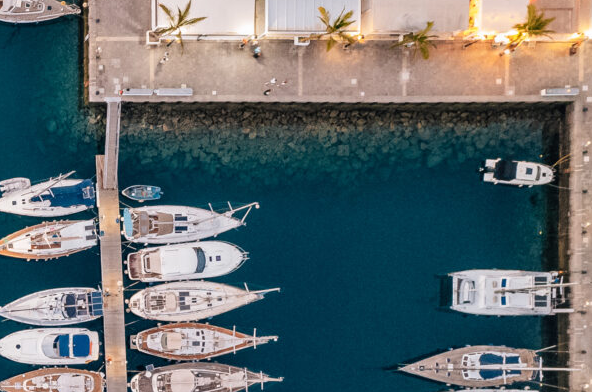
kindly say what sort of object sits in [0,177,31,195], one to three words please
boat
